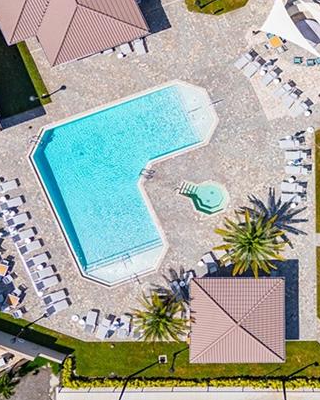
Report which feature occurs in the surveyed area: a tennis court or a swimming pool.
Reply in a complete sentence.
Of the two, only a swimming pool appears.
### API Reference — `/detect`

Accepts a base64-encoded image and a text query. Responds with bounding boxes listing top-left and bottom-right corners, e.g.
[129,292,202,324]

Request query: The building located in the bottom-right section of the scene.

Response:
[189,277,285,365]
